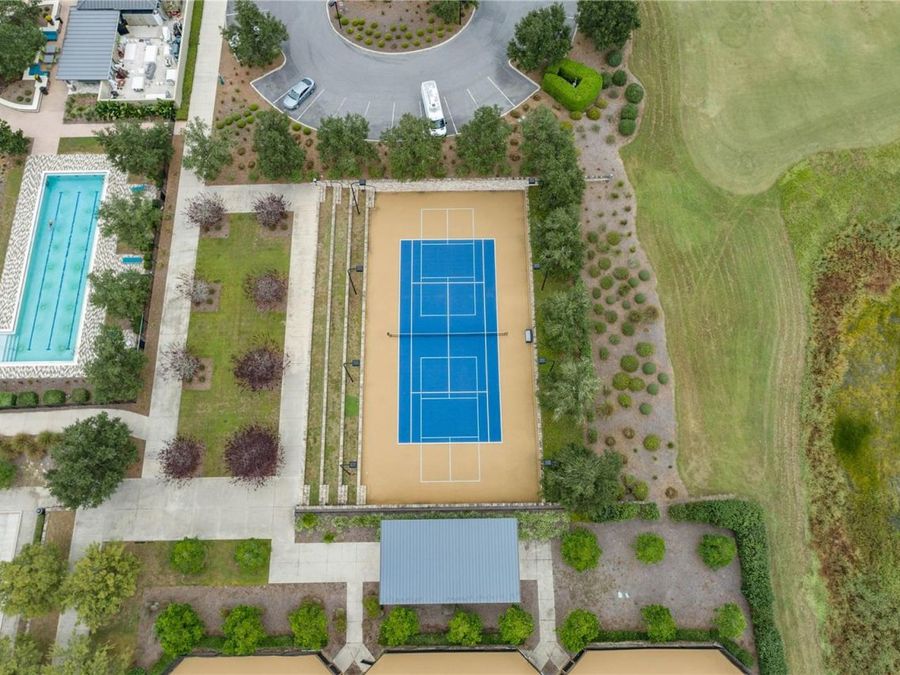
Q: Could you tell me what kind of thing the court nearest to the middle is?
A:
tennis court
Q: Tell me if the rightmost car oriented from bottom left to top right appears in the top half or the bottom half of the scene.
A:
top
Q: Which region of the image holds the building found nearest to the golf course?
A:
bottom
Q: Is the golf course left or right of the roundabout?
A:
to its right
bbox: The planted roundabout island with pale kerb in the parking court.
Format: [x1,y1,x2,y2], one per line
[324,0,476,54]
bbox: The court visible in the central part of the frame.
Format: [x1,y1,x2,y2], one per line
[360,190,541,503]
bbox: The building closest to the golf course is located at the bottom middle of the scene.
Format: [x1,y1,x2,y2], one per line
[378,518,521,605]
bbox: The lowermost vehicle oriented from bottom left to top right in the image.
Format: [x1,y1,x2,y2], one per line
[279,75,316,105]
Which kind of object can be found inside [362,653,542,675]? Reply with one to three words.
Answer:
tennis court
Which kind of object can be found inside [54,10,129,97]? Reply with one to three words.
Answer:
building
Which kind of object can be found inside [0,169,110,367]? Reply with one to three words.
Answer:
swimming pool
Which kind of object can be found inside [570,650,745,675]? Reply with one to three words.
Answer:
tennis court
